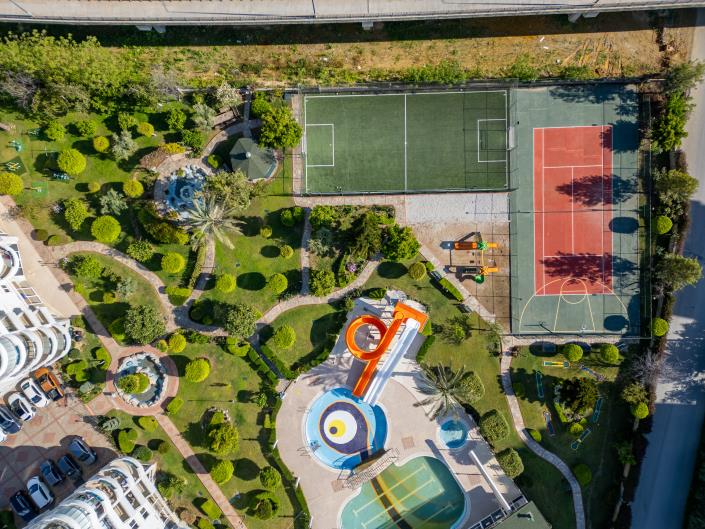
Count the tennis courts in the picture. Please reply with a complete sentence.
In total, 1 tennis court can be seen.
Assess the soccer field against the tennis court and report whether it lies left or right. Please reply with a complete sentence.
It is on the left side of the tennis court that the soccer field is positioned.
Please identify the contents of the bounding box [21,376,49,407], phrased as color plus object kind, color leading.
white car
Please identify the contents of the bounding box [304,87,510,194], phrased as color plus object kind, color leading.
green soccer field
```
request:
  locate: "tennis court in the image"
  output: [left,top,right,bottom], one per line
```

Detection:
[511,82,640,335]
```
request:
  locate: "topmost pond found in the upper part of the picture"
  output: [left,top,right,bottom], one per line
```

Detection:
[161,166,211,214]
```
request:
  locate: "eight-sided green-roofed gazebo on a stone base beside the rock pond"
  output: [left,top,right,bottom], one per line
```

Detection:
[228,134,282,188]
